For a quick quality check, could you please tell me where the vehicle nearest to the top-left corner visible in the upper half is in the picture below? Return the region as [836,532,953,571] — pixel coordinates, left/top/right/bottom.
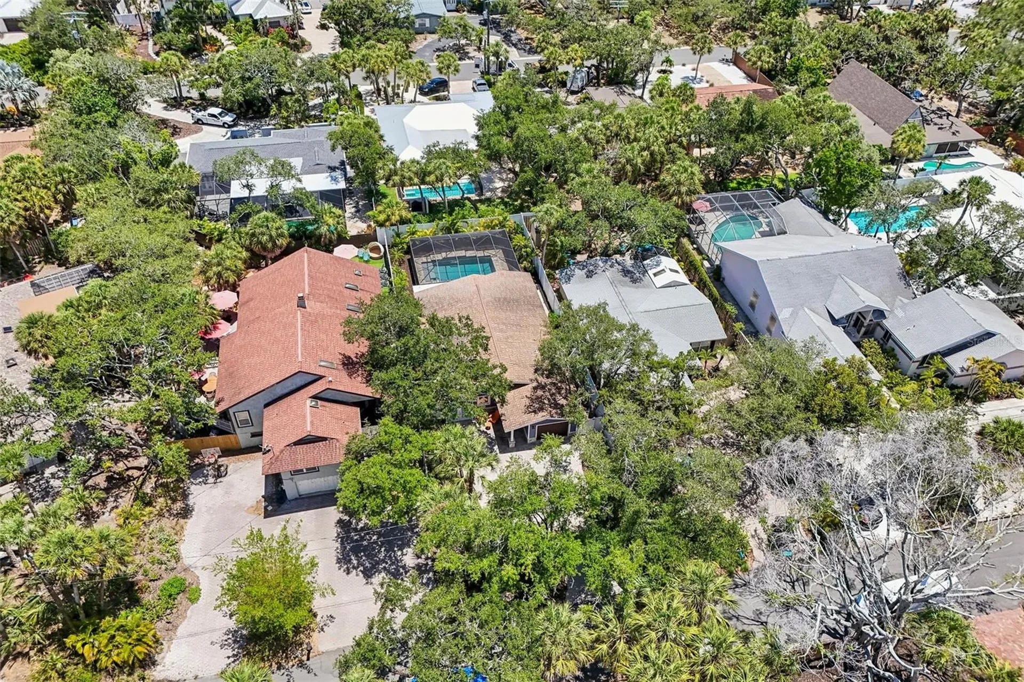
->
[190,103,237,127]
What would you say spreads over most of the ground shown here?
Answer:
trees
